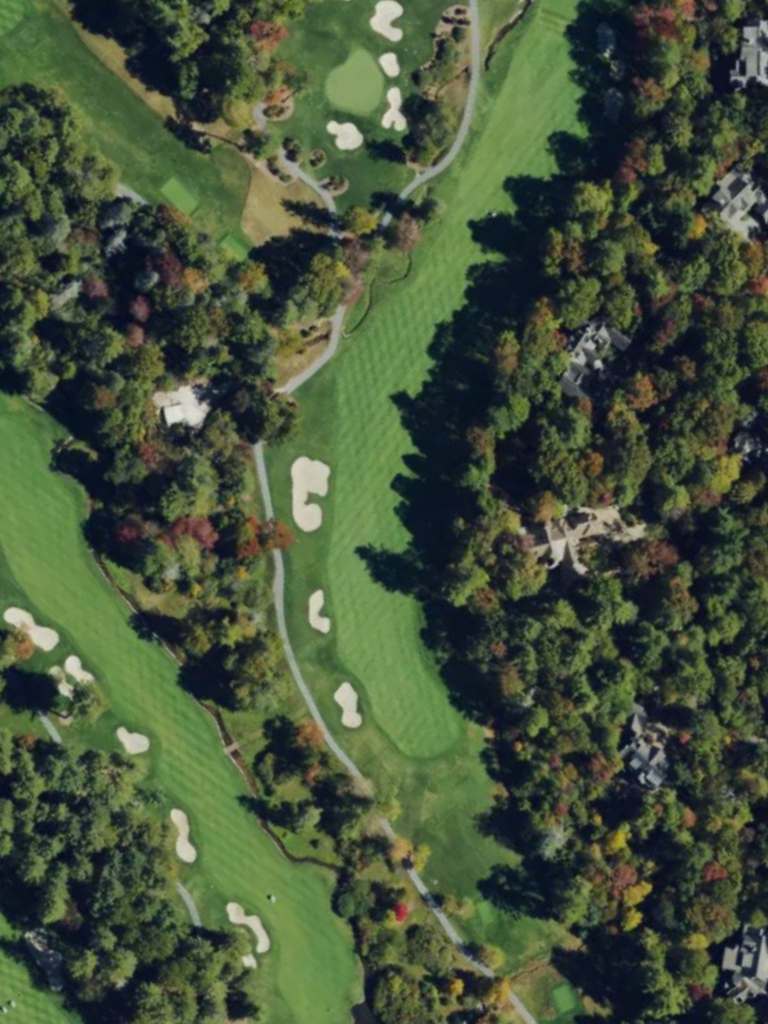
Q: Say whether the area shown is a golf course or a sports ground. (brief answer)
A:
golf course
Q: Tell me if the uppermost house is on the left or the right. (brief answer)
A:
right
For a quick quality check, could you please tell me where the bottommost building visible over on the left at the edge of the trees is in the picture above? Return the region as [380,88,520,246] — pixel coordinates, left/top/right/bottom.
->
[155,383,209,429]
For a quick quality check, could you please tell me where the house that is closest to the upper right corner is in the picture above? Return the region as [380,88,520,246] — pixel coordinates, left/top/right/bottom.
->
[736,17,768,85]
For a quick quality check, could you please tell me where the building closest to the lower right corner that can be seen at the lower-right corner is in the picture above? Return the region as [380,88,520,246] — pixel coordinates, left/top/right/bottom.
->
[720,930,768,1006]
